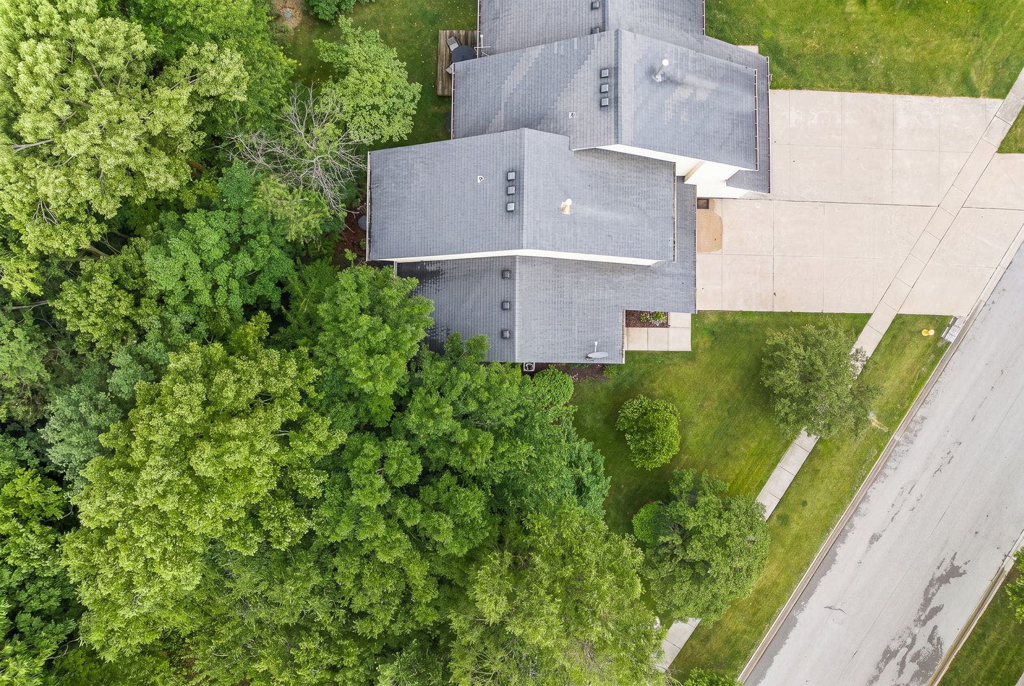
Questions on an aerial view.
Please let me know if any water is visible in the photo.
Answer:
No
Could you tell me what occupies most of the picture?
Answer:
trees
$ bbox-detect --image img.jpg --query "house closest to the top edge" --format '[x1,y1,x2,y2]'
[453,0,770,198]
